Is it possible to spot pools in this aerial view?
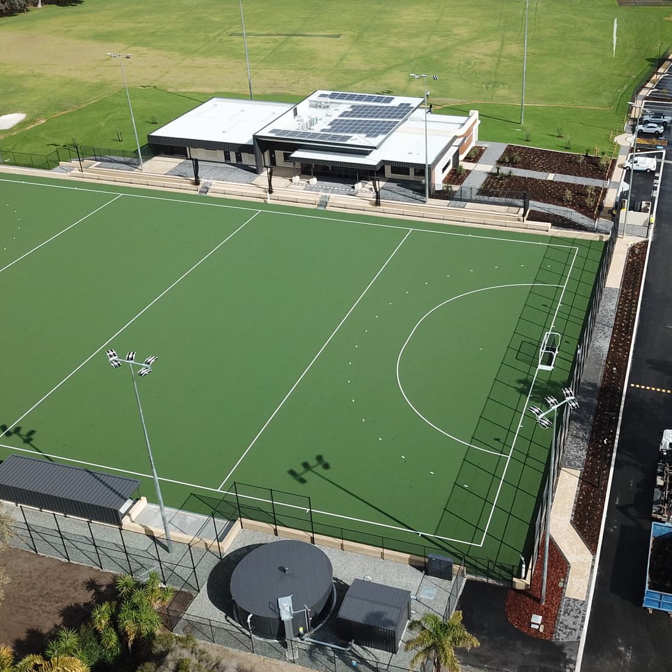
No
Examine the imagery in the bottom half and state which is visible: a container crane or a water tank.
water tank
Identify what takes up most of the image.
grass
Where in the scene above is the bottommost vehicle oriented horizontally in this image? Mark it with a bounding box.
[627,154,662,171]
